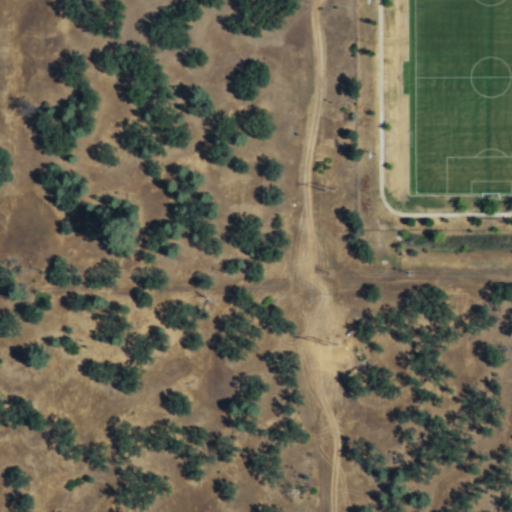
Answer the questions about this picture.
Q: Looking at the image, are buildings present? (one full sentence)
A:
No, there appears to be no building in this shot.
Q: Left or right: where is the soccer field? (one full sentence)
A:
The soccer field is on the right side of the image.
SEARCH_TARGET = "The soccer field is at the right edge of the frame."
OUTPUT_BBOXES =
[402,0,512,196]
